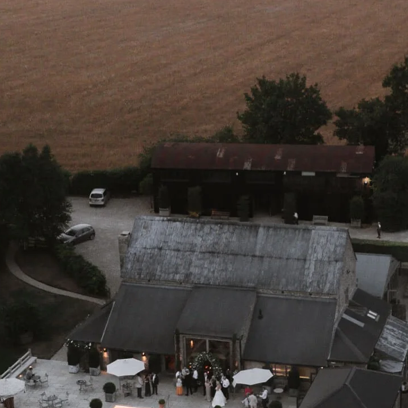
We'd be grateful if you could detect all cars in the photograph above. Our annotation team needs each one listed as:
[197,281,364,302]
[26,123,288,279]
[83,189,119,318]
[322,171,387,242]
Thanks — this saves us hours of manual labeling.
[60,223,98,246]
[89,184,107,203]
